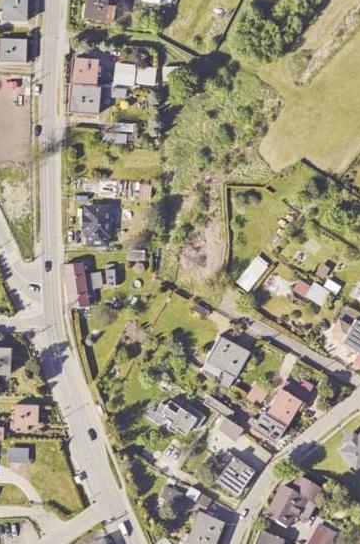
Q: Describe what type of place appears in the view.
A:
residential area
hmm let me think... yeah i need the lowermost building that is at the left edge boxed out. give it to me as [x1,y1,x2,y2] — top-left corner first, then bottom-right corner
[7,448,29,462]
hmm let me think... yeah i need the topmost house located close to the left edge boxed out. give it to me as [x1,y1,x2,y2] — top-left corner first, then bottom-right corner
[0,0,28,21]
